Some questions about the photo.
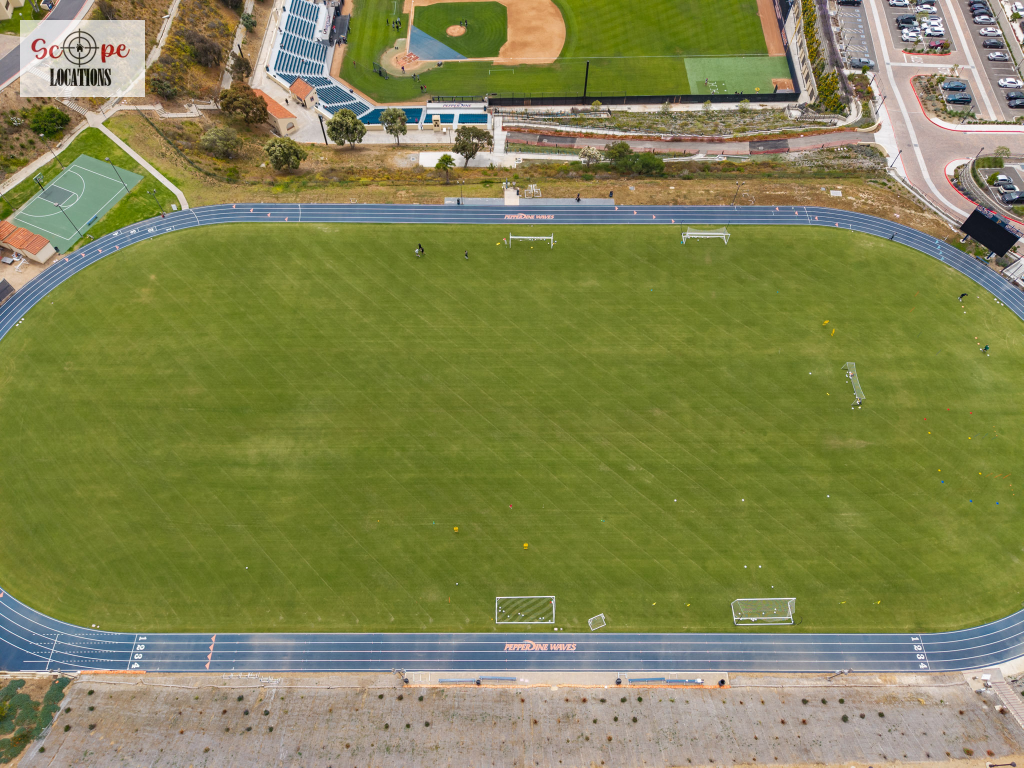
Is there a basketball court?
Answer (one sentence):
Yes, you can see a basketball court in this photo.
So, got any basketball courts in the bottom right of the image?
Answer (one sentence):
No, no basketball court can be made out in the bottom right of the image.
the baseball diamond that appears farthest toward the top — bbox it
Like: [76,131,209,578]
[332,0,794,104]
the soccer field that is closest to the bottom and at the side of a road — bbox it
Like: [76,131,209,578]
[0,222,1024,632]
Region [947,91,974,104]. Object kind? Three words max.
vehicle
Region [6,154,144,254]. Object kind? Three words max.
basketball court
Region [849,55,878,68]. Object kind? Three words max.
vehicle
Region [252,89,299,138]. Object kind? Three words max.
building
